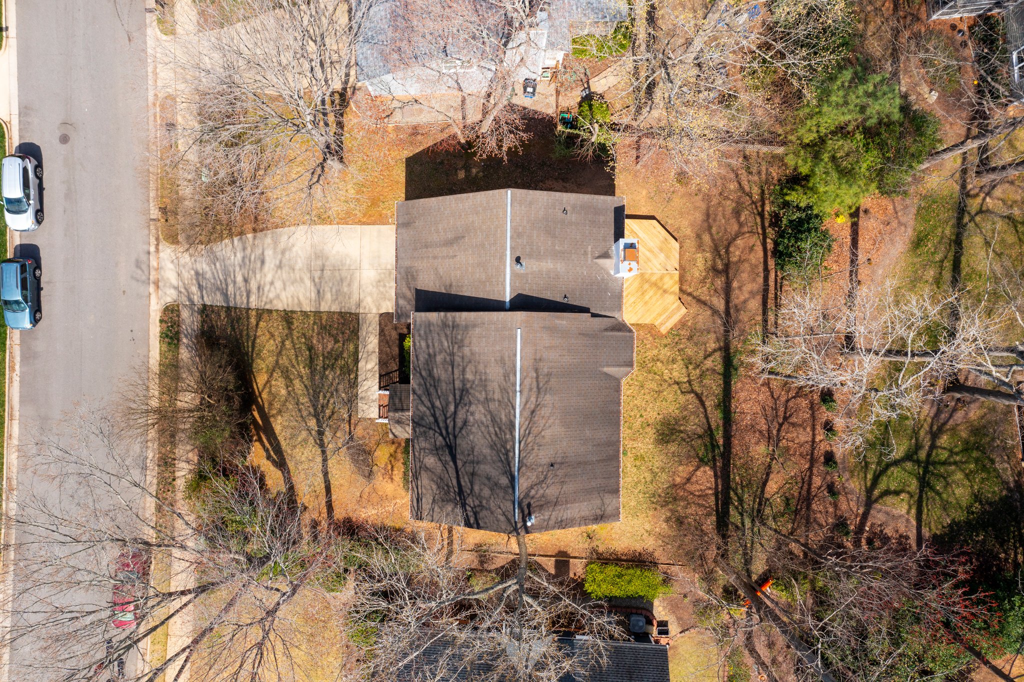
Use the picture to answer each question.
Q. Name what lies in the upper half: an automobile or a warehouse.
automobile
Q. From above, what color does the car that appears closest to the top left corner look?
white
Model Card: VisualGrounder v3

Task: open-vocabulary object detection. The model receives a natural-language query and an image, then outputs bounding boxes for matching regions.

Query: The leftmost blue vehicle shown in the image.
[0,258,42,331]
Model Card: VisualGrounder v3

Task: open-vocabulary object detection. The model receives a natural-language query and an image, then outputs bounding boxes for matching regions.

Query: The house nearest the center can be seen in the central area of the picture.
[374,189,640,534]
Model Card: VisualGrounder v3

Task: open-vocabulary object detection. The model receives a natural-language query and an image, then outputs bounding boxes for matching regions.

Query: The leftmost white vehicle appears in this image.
[0,154,43,232]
